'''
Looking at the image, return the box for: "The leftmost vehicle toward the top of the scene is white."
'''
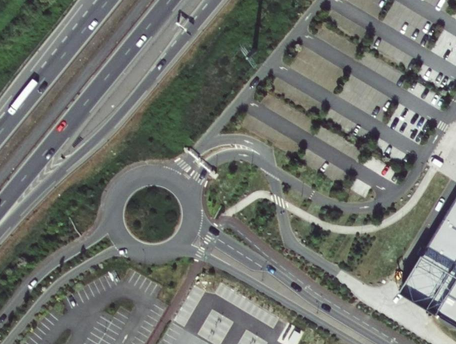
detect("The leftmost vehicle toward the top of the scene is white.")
[10,78,40,114]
